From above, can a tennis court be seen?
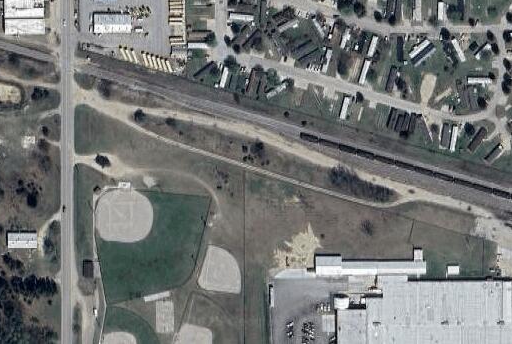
No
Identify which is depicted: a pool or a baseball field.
baseball field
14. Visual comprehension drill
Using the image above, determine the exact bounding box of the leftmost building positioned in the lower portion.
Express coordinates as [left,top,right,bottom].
[7,232,37,248]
